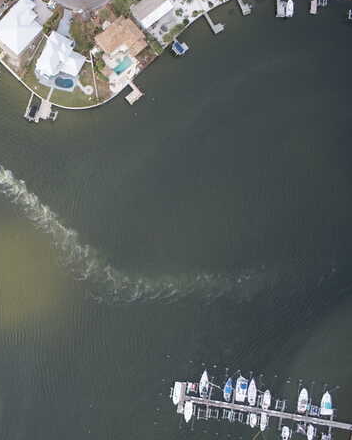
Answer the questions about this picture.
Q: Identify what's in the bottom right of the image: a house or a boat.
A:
boat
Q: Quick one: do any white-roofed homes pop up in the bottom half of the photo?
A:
No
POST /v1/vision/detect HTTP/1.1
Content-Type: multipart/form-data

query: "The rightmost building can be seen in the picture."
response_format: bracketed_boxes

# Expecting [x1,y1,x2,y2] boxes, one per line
[130,0,174,29]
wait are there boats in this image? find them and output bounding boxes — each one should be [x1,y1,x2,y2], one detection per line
[185,400,193,422]
[286,0,294,17]
[282,425,289,440]
[174,380,181,404]
[235,376,248,402]
[249,378,267,405]
[171,39,189,57]
[263,390,271,410]
[320,433,331,440]
[298,388,309,412]
[250,412,257,427]
[225,378,242,402]
[322,391,332,413]
[309,406,320,415]
[200,371,216,398]
[307,423,313,440]
[189,381,196,393]
[260,412,268,430]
